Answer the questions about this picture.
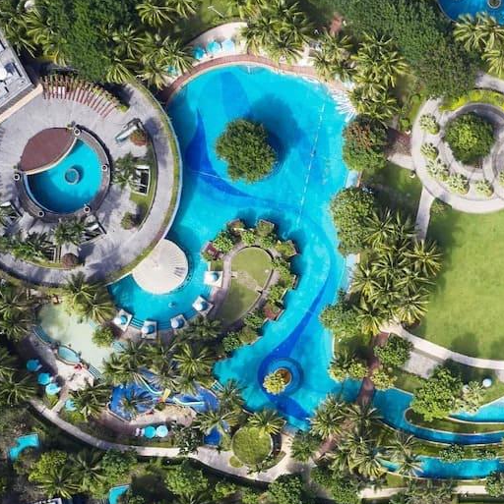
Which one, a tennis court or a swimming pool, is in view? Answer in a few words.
swimming pool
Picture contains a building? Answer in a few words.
Yes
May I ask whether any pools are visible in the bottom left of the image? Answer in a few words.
Yes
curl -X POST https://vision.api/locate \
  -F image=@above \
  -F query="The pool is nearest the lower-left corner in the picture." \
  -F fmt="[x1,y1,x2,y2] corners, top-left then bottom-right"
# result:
[7,431,43,462]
